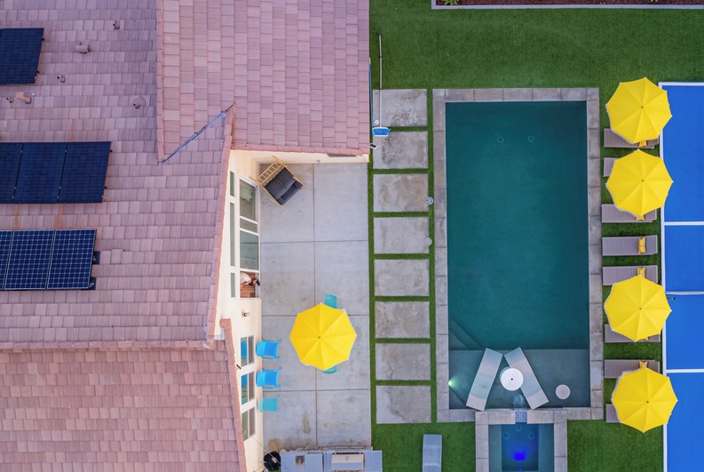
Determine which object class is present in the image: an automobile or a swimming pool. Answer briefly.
swimming pool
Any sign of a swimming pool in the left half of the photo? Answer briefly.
No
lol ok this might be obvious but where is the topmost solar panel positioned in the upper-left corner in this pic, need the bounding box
[0,28,43,83]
